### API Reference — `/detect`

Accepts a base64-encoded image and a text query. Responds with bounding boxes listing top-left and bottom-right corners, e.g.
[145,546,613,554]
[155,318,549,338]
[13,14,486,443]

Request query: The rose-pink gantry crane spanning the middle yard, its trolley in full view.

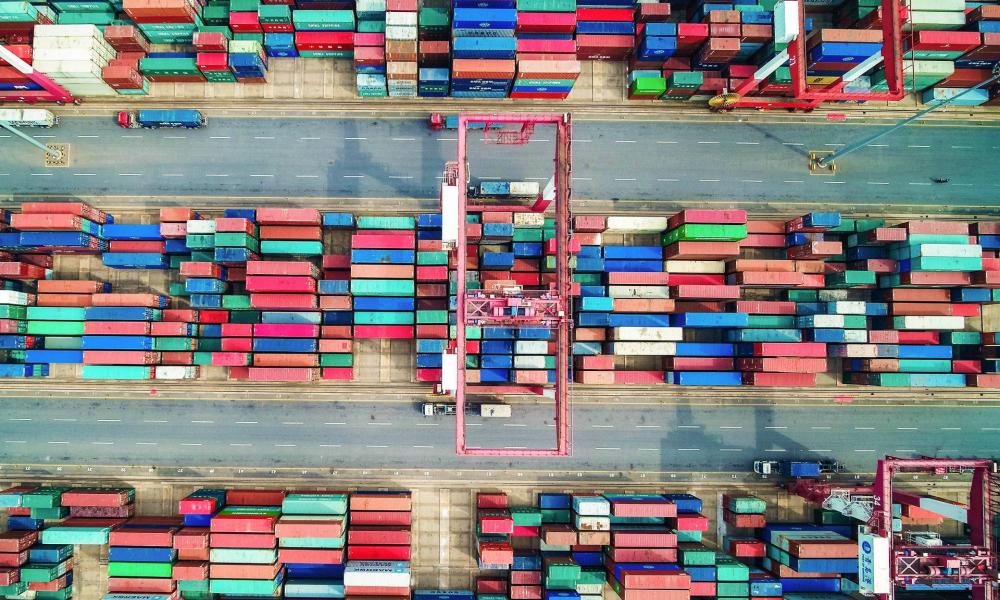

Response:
[429,112,578,456]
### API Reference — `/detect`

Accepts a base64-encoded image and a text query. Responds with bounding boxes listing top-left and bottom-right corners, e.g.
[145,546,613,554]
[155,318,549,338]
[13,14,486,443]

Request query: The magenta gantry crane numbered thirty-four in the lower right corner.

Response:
[775,458,1000,600]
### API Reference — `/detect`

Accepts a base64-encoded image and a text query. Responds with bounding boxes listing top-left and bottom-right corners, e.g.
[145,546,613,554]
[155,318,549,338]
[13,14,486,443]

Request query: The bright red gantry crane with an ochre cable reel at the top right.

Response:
[698,0,916,110]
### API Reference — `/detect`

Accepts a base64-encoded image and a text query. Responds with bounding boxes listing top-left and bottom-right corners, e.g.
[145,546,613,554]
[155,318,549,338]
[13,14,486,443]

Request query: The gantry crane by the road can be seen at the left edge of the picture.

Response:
[0,48,77,102]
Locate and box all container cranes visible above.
[429,112,578,456]
[775,458,1000,600]
[0,48,77,102]
[698,0,916,110]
